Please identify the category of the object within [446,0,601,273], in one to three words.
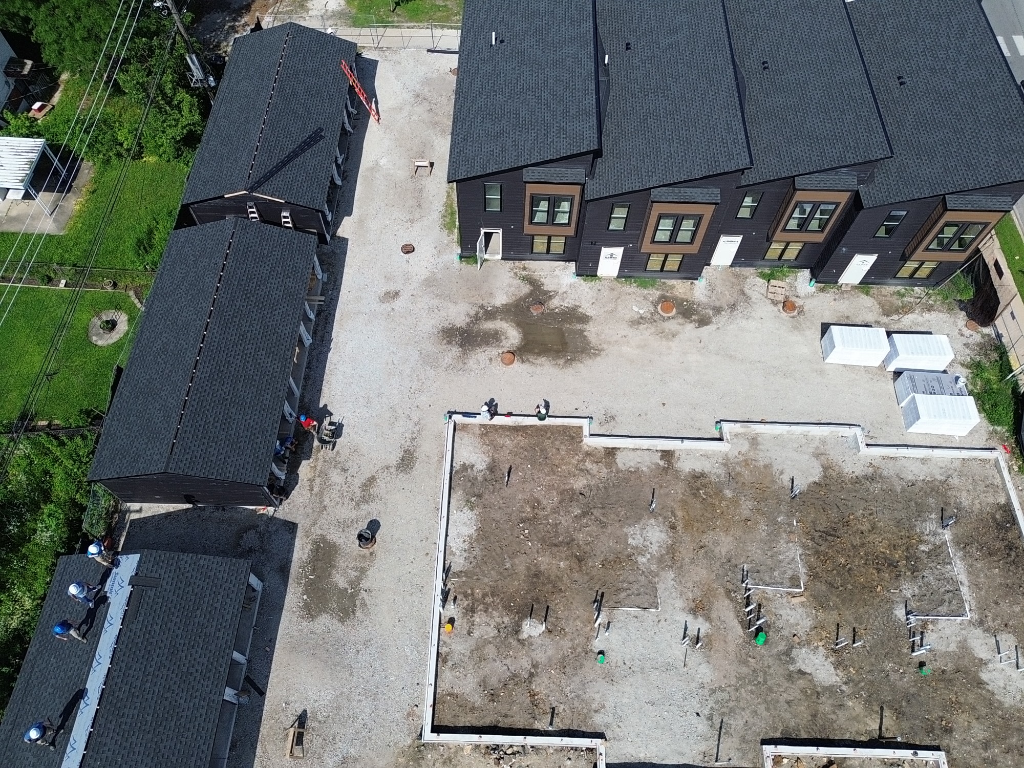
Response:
house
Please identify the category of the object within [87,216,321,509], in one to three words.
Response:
building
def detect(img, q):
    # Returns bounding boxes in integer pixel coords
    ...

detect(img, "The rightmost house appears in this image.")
[814,0,1024,287]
